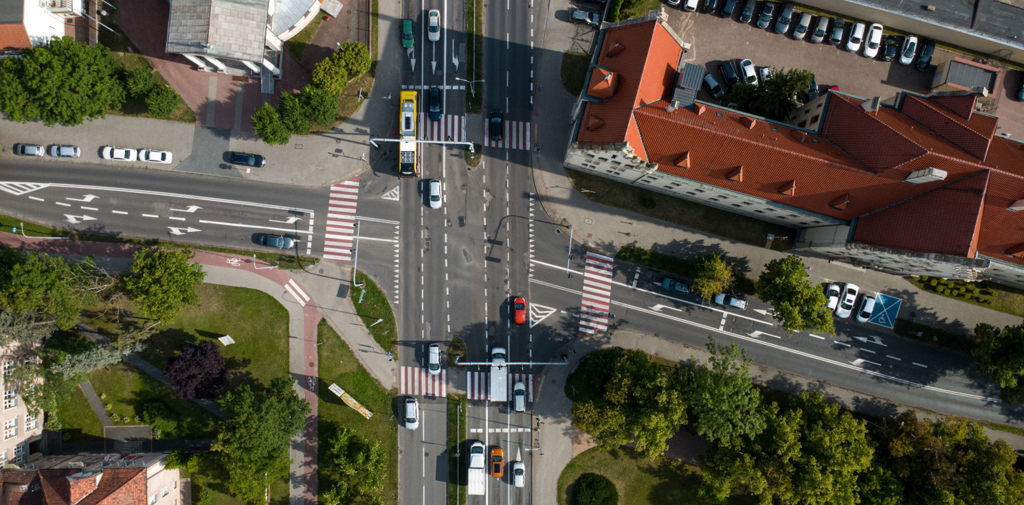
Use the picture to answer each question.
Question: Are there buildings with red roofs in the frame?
Yes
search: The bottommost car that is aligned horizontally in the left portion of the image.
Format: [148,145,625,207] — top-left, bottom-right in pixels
[261,234,295,249]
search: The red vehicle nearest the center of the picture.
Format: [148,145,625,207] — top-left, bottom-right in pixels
[512,296,526,324]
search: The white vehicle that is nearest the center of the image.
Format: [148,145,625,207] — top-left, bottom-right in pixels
[427,180,442,209]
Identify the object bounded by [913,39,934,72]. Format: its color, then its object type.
black car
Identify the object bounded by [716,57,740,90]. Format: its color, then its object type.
black car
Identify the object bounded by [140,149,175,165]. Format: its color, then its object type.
white car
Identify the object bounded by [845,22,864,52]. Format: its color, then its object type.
white car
